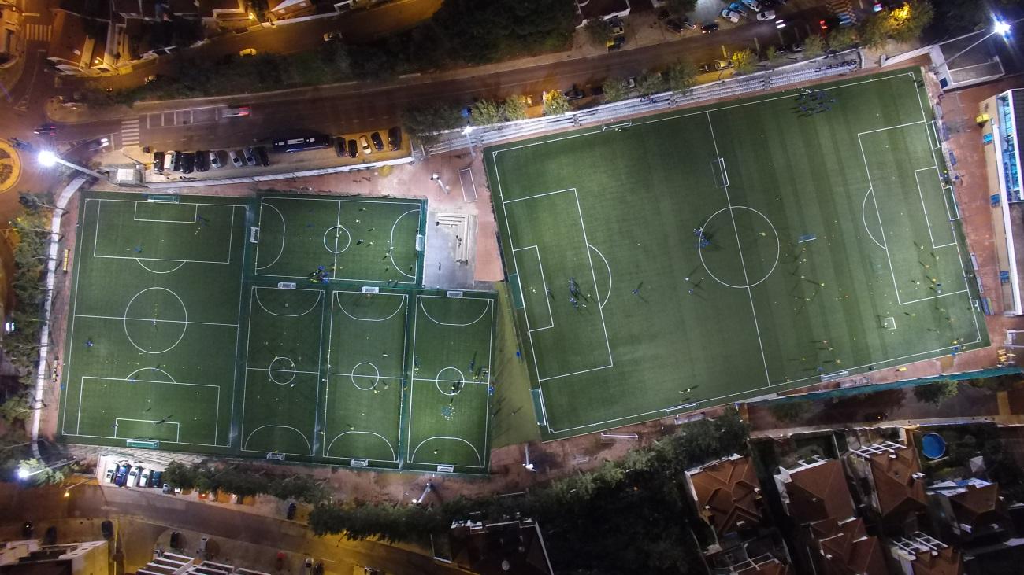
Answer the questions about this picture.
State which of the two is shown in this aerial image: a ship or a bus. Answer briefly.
bus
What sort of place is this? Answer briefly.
sports ground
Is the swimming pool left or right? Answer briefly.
right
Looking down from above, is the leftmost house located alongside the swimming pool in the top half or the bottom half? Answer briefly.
bottom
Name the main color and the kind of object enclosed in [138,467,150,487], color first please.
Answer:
white vehicle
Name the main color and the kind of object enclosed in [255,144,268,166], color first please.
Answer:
black vehicle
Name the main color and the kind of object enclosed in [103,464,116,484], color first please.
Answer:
white vehicle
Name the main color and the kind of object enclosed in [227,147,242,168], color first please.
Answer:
gray car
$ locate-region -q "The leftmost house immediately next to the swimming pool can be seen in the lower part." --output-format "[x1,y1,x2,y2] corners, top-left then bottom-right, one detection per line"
[841,429,929,516]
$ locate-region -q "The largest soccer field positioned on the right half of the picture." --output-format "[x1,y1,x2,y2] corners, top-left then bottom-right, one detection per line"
[484,66,991,444]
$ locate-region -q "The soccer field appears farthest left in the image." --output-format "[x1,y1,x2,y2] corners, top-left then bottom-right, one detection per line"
[58,190,254,458]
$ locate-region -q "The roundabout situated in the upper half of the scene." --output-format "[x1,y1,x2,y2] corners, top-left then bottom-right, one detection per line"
[0,139,21,192]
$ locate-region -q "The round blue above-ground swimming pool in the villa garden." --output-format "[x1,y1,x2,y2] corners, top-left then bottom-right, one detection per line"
[921,433,949,460]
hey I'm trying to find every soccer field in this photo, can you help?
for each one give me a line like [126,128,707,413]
[58,190,254,458]
[251,194,427,287]
[318,286,413,470]
[484,66,991,444]
[404,288,497,475]
[239,284,329,463]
